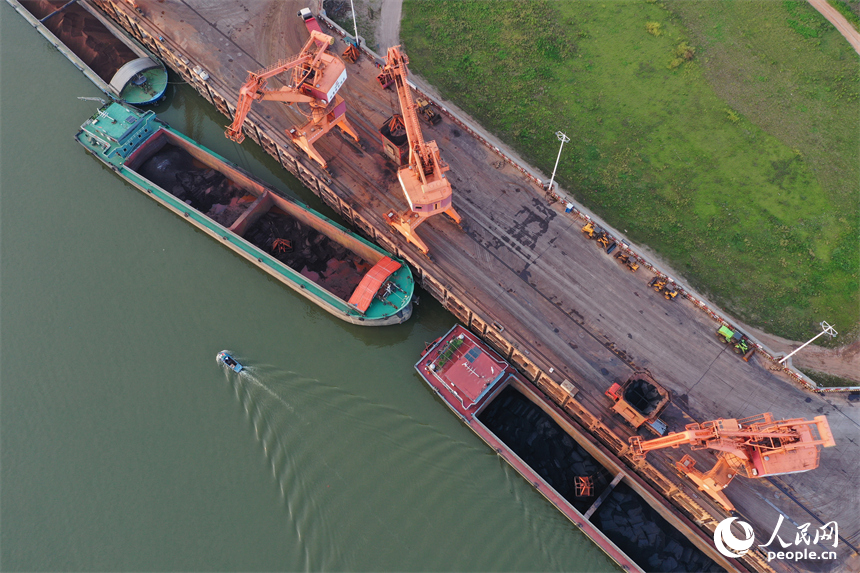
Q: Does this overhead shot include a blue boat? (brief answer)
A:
Yes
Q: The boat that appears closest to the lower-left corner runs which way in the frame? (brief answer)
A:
on a diagonal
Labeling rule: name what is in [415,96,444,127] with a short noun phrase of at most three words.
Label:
work vehicle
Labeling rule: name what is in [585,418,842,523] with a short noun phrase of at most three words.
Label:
crane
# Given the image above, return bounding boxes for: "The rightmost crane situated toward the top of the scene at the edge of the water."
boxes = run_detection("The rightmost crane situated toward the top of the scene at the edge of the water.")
[380,40,463,260]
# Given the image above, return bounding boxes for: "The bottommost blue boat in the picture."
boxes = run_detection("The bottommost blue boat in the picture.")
[220,350,245,375]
